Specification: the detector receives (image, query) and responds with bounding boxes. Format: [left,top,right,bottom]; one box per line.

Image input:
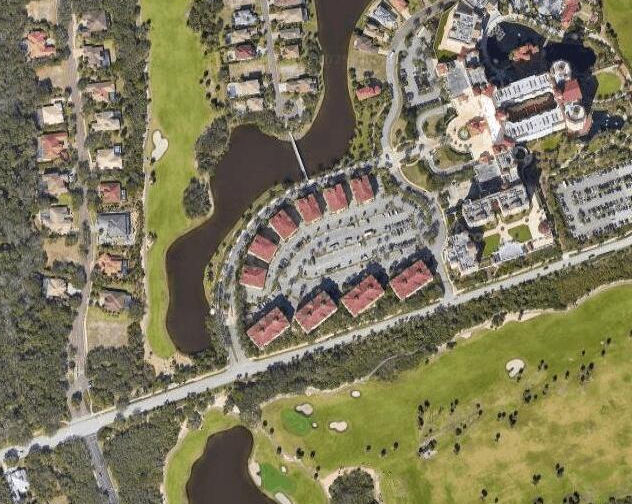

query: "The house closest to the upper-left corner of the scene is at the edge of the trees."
[25,31,55,59]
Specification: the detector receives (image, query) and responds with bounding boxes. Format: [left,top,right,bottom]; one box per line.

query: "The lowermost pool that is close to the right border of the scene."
[593,110,625,131]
